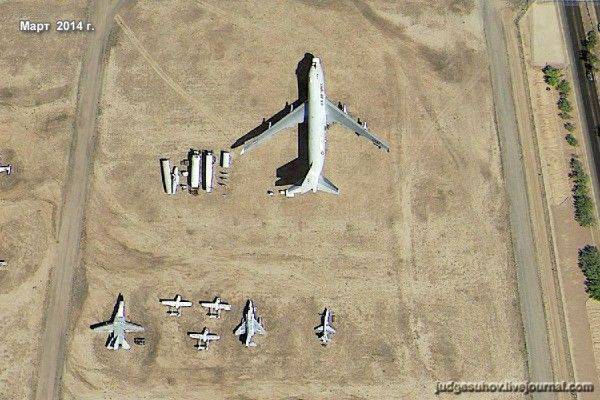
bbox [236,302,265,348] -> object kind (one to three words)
airplane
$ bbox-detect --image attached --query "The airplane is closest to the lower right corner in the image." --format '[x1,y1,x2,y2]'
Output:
[315,309,336,345]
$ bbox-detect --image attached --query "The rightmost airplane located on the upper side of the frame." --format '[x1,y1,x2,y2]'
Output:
[241,57,390,194]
